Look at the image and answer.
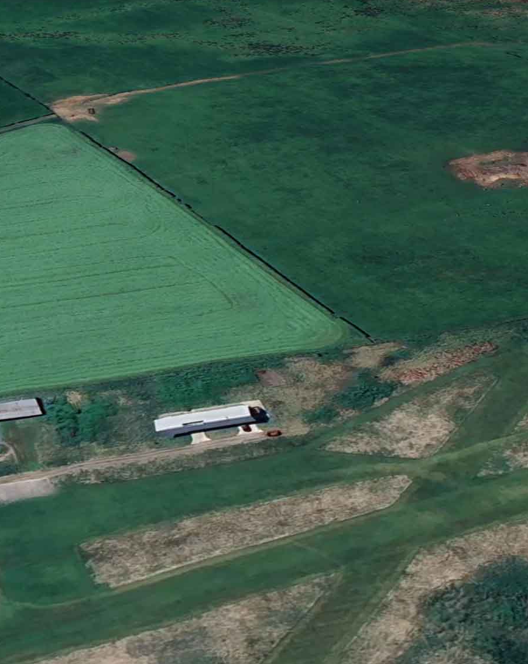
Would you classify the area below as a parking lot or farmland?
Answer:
farmland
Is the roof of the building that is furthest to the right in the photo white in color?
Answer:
Yes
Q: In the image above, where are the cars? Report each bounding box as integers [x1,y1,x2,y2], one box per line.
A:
[243,423,251,431]
[267,429,281,434]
